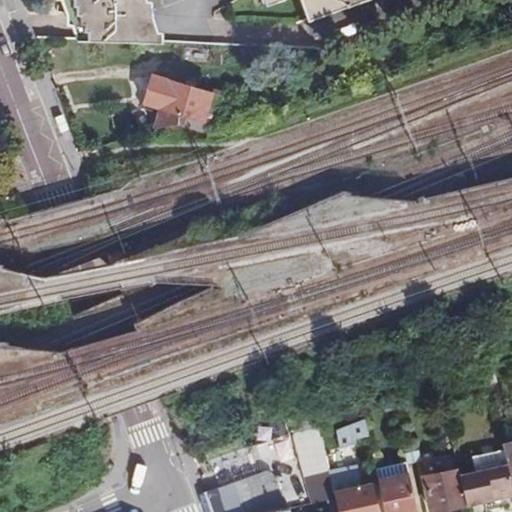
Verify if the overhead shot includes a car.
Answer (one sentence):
Yes, I can see a car in this picture.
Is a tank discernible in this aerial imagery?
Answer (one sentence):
No, I can't see a single tank in this photo.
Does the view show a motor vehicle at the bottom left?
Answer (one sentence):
Yes, a motor vehicle is visible at the bottom left.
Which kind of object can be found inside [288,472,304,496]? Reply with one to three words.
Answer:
car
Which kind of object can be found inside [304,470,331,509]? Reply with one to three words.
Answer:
building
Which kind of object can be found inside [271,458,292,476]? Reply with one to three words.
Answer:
car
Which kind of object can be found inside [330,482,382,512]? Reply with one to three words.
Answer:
house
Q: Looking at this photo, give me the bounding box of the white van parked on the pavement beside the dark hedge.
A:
[54,112,70,135]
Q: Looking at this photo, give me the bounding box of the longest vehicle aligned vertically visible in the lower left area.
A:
[130,461,146,494]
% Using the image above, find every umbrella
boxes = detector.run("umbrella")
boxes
[341,24,357,36]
